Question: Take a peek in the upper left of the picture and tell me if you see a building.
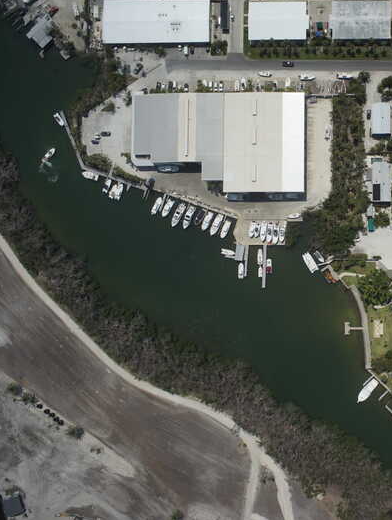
Yes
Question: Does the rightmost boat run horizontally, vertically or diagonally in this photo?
diagonally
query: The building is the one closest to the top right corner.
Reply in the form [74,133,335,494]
[331,1,390,40]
